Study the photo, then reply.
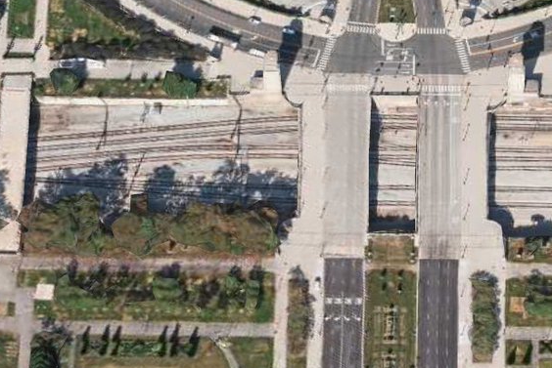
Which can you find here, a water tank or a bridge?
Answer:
bridge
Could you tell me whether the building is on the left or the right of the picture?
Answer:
left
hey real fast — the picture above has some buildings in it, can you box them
[34,284,54,305]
